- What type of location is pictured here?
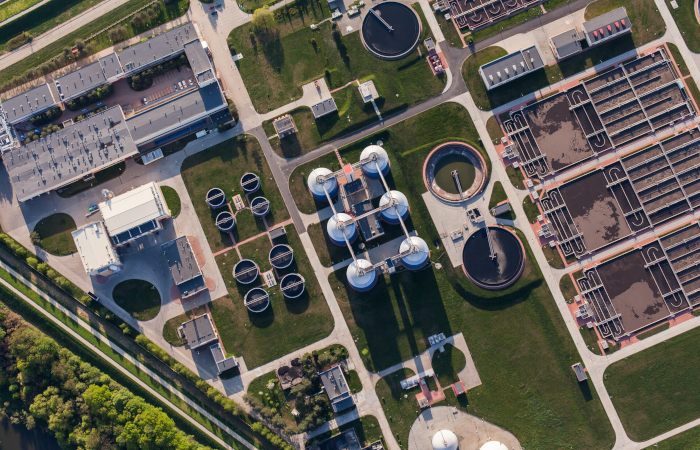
industrial area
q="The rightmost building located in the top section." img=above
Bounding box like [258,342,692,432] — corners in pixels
[580,7,632,47]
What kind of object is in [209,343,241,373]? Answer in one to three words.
building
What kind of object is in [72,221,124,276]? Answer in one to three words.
building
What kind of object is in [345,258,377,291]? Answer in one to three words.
storage tank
